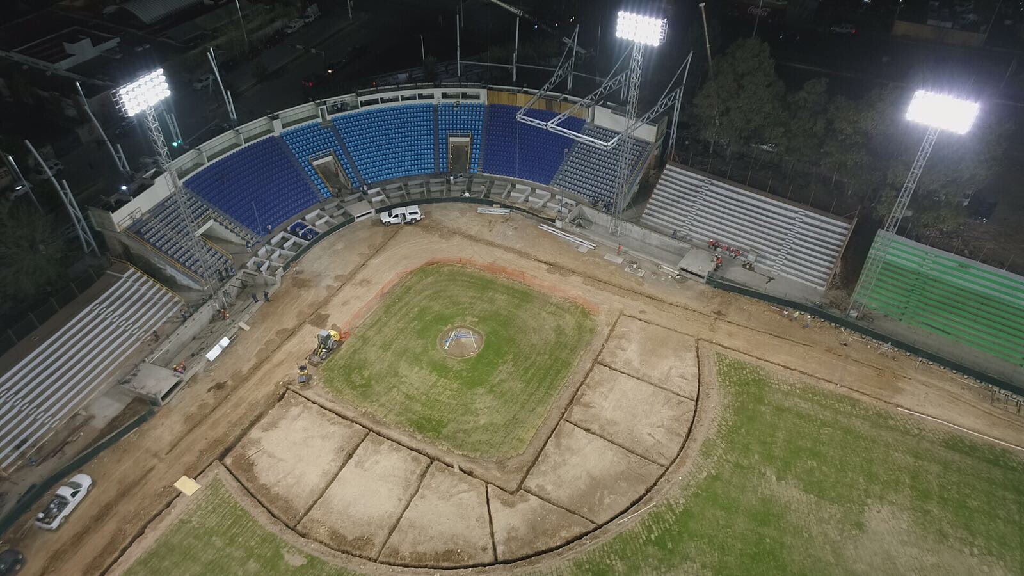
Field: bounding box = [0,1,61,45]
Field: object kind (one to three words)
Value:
house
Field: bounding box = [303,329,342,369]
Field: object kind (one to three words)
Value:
work vehicle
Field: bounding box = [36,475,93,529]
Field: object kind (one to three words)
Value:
truck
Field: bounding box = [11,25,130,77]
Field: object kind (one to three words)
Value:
house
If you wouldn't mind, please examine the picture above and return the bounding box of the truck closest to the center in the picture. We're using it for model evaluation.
[378,202,421,225]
